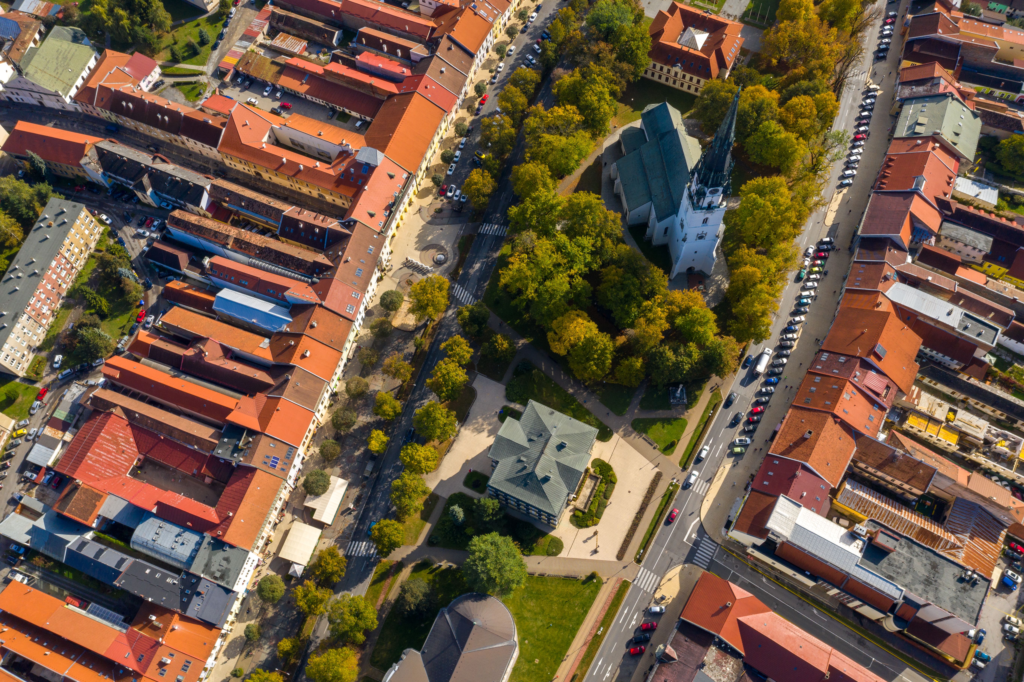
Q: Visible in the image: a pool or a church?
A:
church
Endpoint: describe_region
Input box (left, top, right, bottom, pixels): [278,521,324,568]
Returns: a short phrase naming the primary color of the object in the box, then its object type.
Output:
white tent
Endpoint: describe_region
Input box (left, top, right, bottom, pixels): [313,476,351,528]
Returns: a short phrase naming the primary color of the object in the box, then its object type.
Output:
white tent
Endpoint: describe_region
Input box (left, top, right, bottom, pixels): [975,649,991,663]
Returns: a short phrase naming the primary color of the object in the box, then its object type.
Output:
blue car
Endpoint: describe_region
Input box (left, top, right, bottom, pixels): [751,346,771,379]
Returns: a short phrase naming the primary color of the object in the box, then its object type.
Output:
white vehicle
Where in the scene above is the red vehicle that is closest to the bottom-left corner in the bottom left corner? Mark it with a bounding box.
[65,594,87,610]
